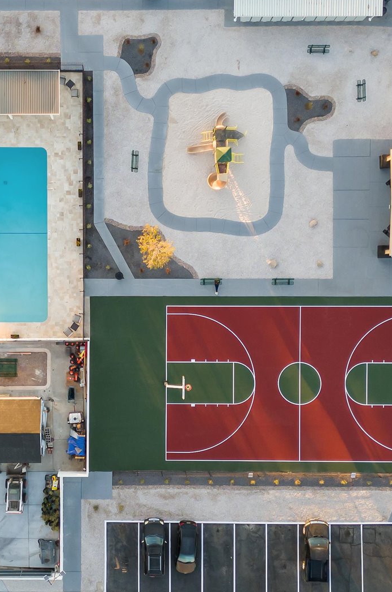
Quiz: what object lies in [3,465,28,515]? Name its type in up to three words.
work vehicle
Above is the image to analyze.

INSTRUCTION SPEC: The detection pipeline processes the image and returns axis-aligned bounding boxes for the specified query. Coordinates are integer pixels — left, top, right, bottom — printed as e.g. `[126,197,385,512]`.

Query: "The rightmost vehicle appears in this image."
[302,518,332,584]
